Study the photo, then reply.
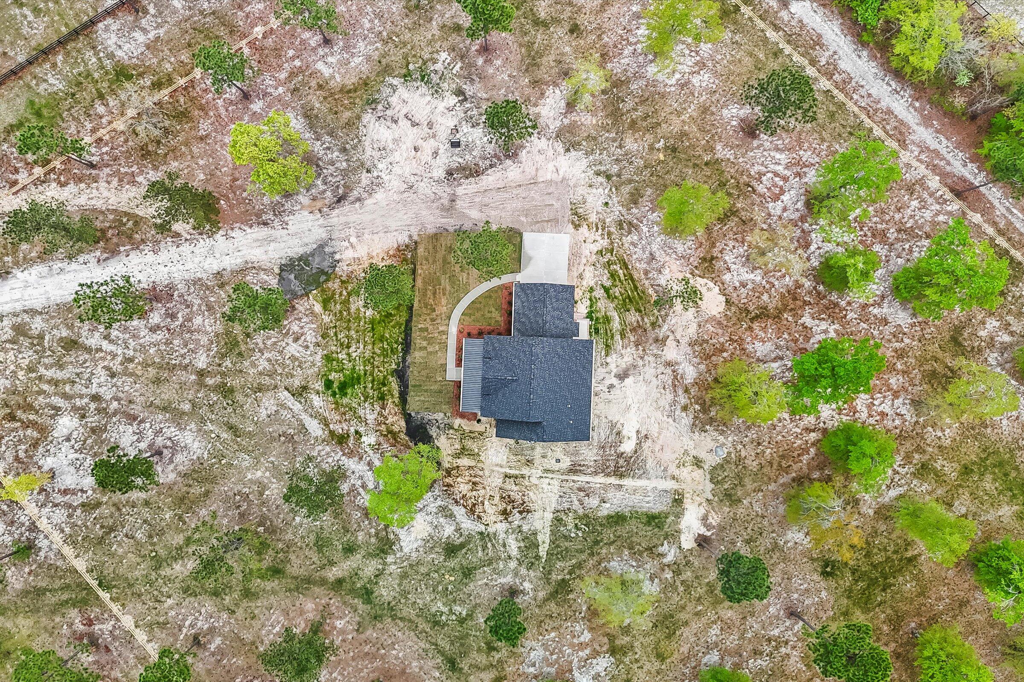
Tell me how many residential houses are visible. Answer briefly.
1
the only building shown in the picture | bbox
[459,282,596,442]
